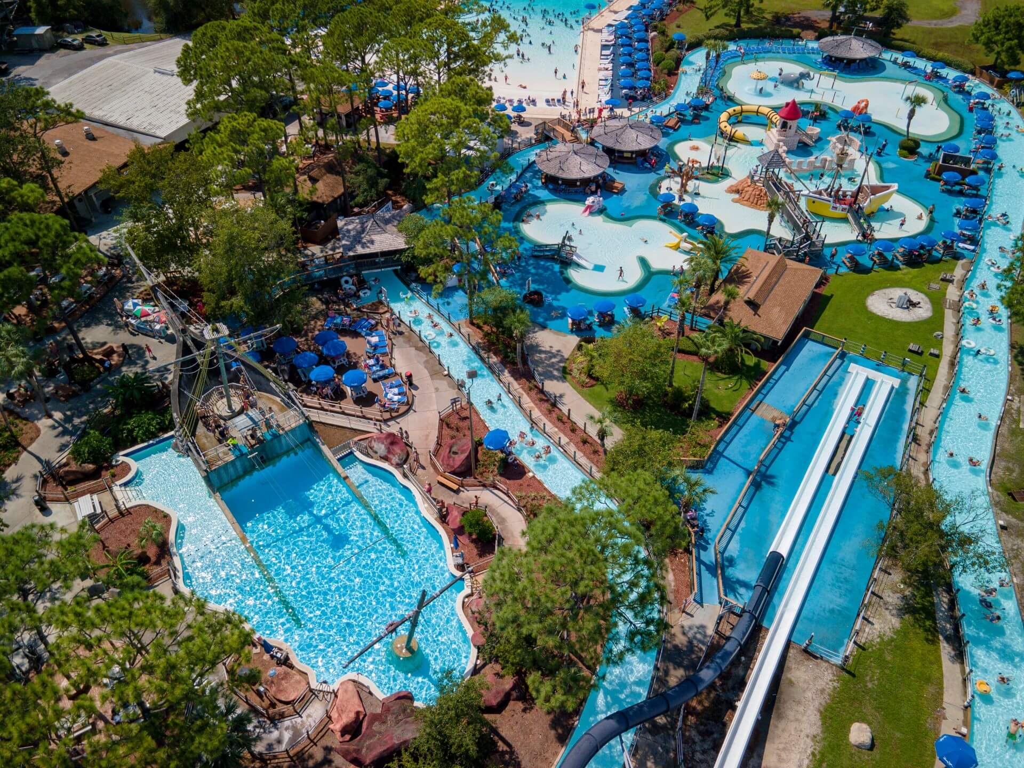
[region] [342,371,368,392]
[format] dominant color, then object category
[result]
blue umbrella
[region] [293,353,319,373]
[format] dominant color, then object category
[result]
blue umbrella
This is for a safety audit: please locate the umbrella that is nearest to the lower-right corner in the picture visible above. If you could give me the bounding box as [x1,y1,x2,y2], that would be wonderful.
[930,729,980,768]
